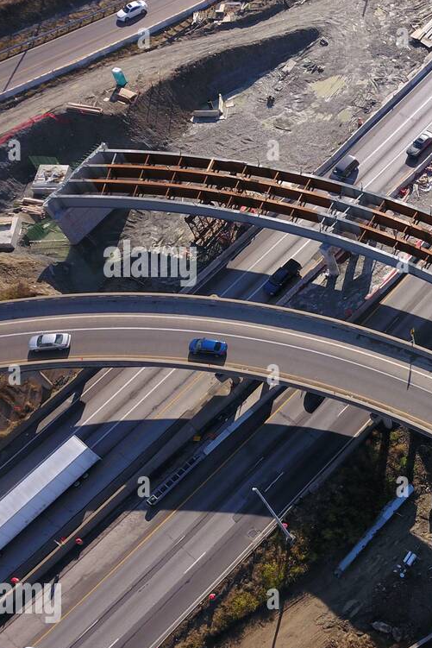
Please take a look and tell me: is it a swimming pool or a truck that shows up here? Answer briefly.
truck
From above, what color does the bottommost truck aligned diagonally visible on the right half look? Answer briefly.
black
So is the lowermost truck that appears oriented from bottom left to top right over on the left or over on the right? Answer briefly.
left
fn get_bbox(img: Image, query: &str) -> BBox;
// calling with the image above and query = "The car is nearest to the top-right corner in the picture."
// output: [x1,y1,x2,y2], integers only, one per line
[407,130,432,154]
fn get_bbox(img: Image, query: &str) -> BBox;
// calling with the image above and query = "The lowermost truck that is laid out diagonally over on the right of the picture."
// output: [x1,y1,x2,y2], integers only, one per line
[260,259,301,297]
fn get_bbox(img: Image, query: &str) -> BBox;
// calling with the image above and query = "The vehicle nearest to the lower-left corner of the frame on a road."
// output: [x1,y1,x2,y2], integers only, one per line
[0,450,102,568]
